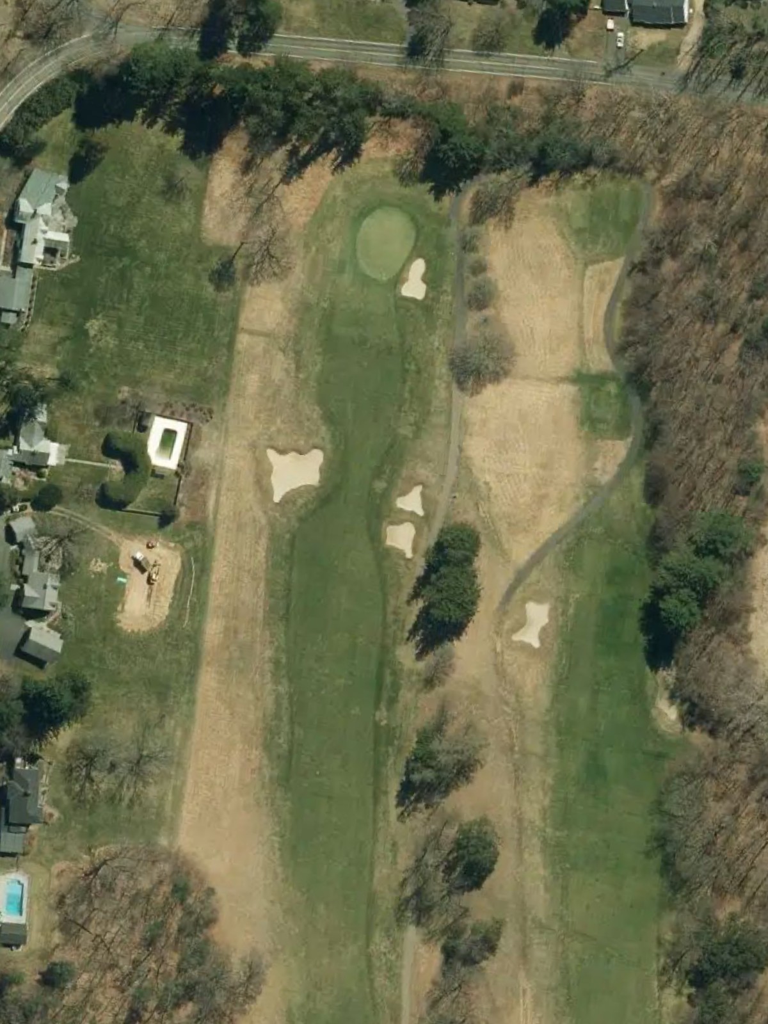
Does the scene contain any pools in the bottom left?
Yes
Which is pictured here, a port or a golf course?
golf course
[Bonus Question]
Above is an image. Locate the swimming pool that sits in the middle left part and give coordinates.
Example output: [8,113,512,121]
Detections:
[148,416,187,470]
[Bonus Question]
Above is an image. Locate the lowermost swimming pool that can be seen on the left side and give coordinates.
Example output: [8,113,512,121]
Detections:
[0,872,29,924]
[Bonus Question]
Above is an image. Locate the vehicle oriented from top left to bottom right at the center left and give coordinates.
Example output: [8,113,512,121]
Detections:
[135,553,152,573]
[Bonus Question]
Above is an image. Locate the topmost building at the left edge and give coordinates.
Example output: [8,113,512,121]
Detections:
[13,164,79,270]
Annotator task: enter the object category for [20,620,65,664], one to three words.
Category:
building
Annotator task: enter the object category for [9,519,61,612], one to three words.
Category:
house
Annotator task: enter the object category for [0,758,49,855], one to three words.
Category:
house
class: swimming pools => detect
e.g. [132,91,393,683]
[0,872,29,924]
[148,416,187,470]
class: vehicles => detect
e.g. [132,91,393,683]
[148,541,158,547]
[618,32,624,47]
[135,553,152,573]
[607,17,614,31]
[150,562,159,582]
